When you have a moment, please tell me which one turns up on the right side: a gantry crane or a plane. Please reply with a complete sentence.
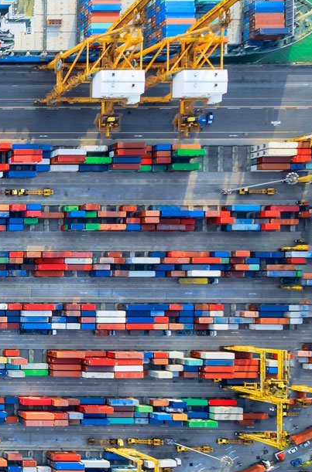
Looking on the right side, you will find a gantry crane.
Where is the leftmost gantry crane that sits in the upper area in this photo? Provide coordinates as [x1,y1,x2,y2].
[41,0,148,146]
